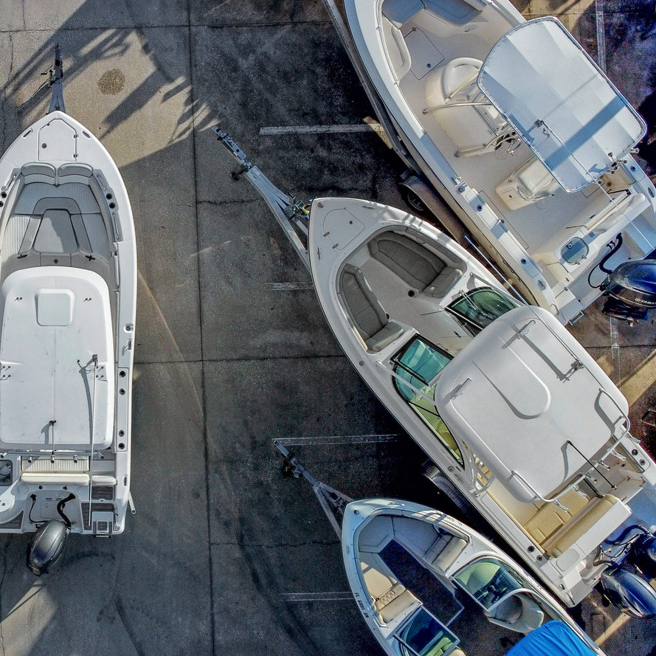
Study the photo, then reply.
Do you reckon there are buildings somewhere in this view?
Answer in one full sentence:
No, I find no building anywhere in the image.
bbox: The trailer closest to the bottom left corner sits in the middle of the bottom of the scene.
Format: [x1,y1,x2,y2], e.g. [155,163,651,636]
[258,428,361,595]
